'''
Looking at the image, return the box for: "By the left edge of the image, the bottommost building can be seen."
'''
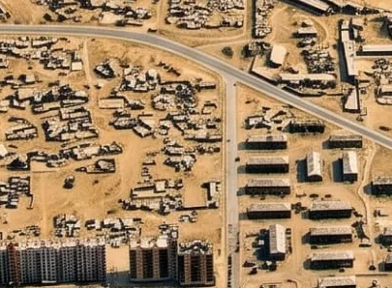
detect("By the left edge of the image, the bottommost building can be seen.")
[0,236,112,288]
